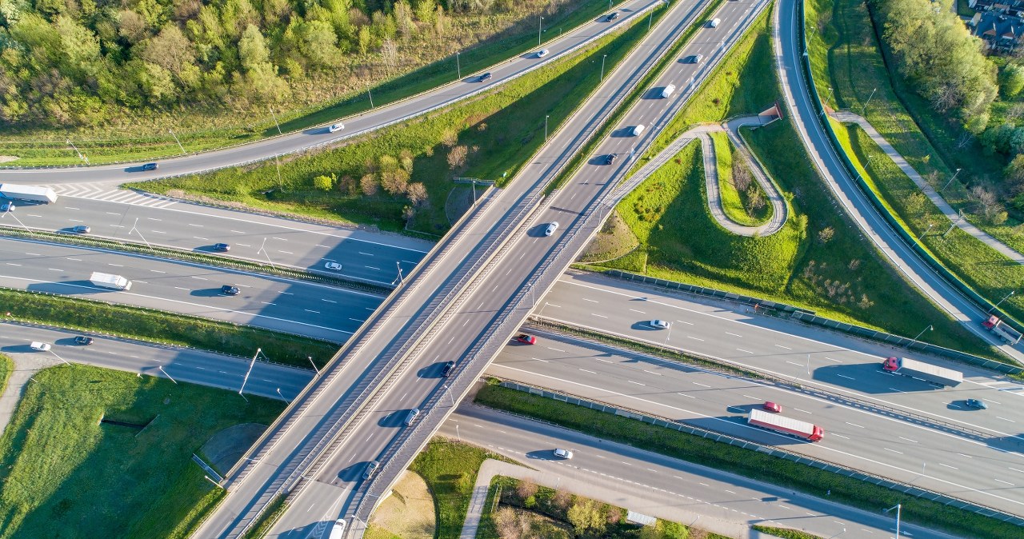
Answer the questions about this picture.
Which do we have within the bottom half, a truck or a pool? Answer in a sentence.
The feature located within the bottom half is a truck.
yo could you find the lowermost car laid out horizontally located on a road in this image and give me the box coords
[553,448,574,460]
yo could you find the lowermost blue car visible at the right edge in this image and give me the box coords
[966,398,986,410]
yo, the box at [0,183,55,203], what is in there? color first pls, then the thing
white vehicle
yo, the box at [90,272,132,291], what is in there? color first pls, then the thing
white vehicle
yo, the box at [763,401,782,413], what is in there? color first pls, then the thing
red vehicle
